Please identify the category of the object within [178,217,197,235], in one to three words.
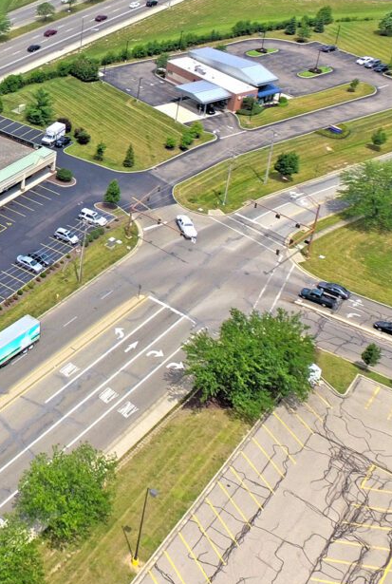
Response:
car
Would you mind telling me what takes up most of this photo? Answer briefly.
paved ground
